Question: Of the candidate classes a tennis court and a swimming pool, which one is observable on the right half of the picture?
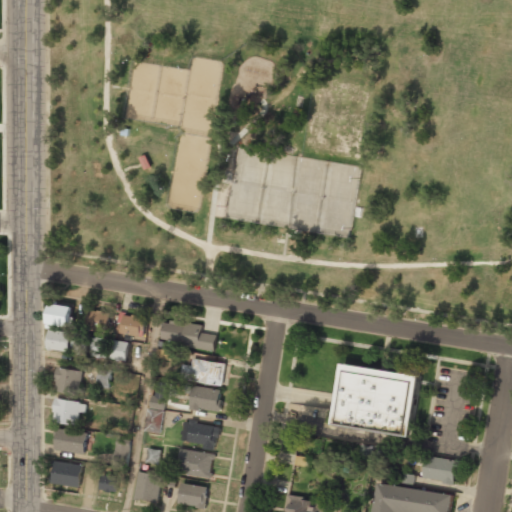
tennis court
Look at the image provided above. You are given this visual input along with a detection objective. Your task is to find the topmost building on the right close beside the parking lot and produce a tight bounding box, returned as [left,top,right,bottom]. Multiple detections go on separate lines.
[328,364,422,438]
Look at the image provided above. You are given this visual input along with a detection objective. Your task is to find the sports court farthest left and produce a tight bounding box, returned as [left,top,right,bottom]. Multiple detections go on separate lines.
[129,63,160,122]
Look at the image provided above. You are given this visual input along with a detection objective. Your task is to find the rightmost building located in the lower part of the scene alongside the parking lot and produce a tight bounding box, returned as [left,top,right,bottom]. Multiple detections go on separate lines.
[422,456,458,485]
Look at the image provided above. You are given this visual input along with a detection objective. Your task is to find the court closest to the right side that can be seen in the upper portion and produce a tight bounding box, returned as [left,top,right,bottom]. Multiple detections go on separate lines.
[320,162,360,236]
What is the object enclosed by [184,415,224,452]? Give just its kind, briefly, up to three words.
house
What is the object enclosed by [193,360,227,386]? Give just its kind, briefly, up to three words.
house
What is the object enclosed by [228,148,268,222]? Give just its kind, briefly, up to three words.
tennis court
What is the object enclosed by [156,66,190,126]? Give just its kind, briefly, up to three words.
sports court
